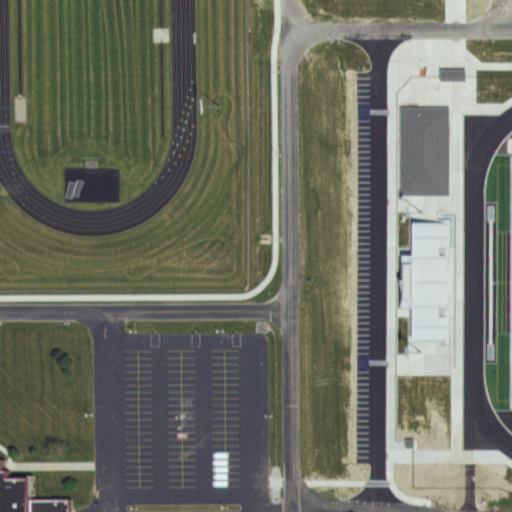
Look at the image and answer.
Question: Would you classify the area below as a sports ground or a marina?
sports ground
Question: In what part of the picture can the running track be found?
top left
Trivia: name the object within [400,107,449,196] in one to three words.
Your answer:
building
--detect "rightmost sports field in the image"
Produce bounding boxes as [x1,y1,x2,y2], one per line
[486,134,512,411]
